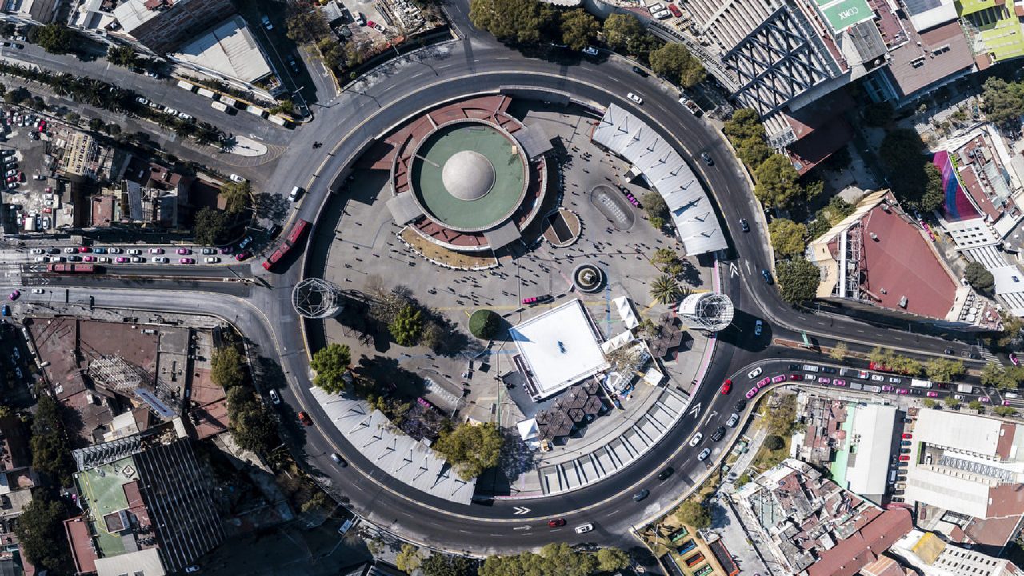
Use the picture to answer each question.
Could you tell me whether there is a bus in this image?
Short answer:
Yes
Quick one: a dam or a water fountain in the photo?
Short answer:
water fountain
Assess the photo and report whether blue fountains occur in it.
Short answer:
No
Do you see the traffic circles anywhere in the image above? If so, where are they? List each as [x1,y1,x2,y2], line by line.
[242,34,778,560]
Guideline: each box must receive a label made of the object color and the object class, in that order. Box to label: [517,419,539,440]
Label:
white tent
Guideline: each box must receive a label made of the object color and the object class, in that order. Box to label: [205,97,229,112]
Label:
white vehicle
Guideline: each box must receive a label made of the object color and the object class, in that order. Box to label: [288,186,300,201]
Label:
white vehicle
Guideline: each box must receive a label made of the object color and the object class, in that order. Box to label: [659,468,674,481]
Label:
black vehicle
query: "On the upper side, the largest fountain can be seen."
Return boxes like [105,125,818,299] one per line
[592,185,634,230]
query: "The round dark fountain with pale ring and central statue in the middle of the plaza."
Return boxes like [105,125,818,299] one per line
[569,259,601,292]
